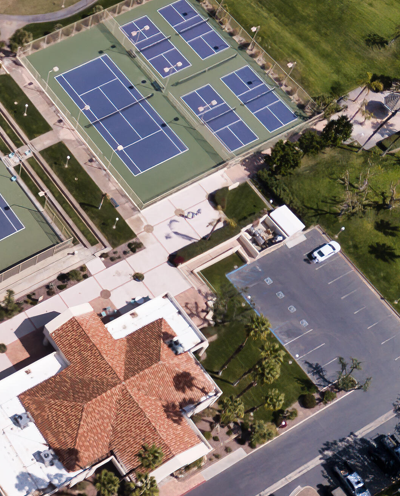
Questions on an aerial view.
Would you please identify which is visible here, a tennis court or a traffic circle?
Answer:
tennis court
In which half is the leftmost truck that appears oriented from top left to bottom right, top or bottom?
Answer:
bottom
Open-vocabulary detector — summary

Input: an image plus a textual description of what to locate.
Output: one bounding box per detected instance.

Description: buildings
[269,205,307,247]
[0,280,223,496]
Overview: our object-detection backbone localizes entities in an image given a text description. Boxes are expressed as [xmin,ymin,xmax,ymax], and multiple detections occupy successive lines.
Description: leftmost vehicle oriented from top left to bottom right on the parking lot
[334,462,373,496]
